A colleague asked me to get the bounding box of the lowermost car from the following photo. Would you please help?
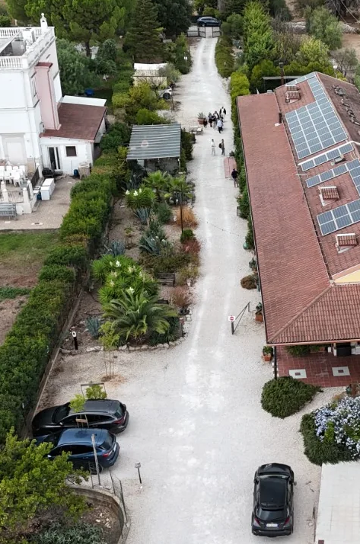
[247,467,296,538]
